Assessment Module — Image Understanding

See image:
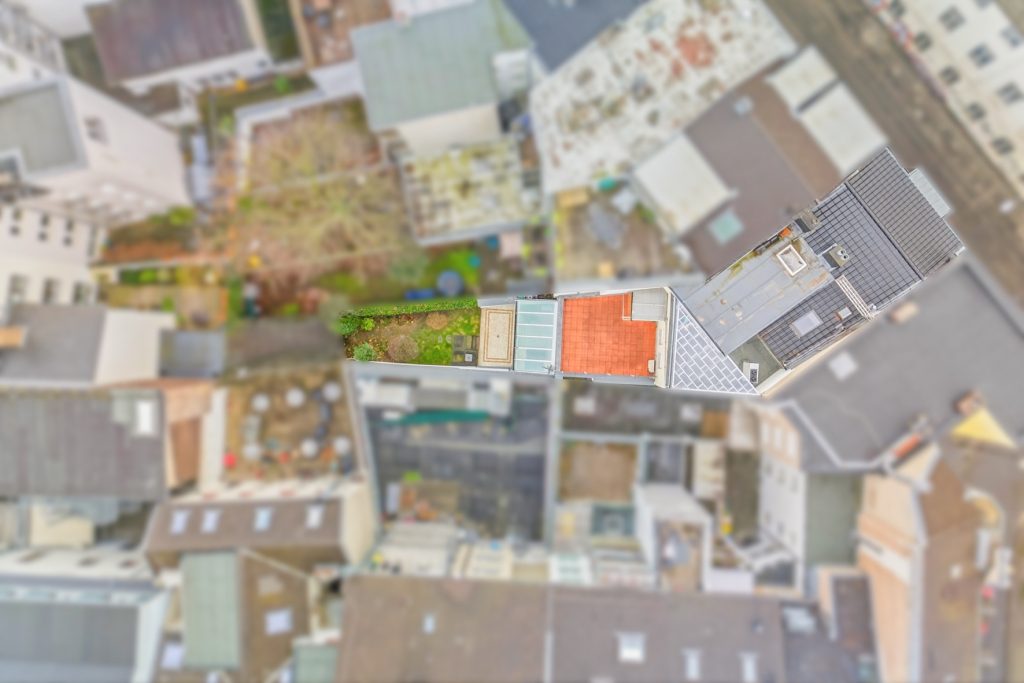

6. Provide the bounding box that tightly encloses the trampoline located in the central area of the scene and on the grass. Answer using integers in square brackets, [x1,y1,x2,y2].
[436,271,462,297]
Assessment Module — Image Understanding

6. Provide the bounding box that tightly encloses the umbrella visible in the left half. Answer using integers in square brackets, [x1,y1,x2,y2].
[225,451,245,466]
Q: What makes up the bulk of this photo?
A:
buildings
